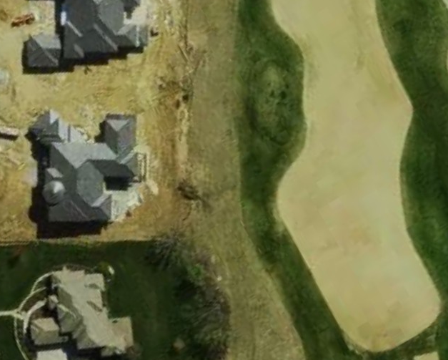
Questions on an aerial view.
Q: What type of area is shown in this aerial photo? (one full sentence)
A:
The area seen from above is a golf course.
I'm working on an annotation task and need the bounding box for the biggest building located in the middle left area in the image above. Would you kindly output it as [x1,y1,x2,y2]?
[27,108,137,224]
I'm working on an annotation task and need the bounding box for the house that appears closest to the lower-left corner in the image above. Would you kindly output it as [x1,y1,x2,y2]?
[28,271,134,357]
